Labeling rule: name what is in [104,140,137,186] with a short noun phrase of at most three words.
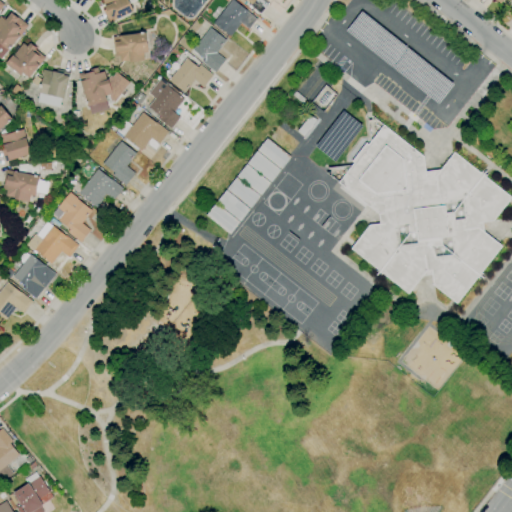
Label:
house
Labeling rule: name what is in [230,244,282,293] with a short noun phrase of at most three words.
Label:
basketball court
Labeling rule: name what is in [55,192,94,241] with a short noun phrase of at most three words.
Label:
house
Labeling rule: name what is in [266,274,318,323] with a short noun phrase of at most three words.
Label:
basketball court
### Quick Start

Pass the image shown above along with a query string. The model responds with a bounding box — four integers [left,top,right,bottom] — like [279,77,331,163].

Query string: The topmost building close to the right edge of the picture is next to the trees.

[340,124,512,304]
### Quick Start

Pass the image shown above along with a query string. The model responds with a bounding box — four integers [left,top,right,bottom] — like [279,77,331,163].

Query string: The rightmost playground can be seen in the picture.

[468,264,512,358]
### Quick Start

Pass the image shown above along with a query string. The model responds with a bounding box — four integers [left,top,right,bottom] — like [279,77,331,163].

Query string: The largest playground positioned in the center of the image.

[218,108,374,354]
